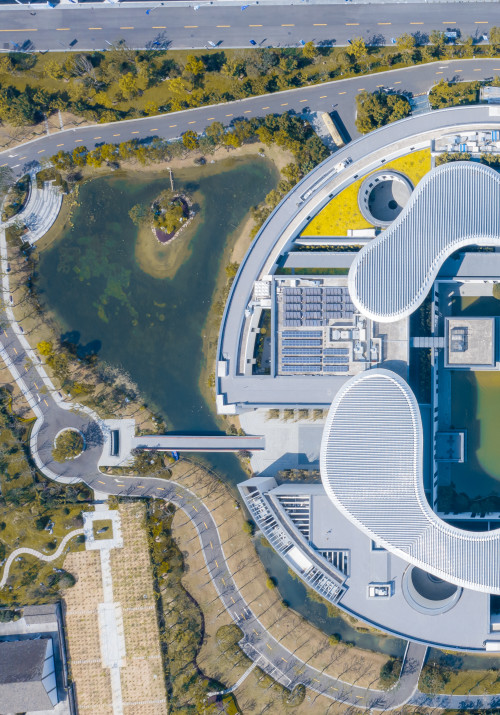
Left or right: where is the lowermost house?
left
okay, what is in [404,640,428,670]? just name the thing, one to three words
bridge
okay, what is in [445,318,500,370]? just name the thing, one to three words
building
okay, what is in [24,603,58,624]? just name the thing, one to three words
shed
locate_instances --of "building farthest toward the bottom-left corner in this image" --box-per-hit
[0,637,58,710]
